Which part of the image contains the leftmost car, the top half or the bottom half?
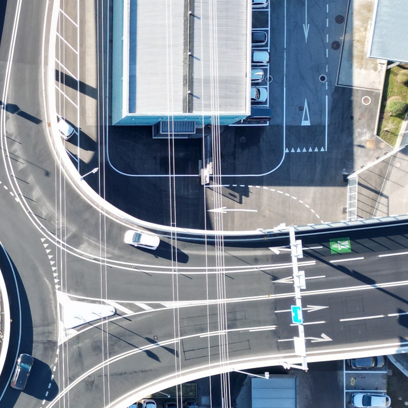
bottom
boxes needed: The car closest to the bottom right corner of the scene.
[351,391,389,408]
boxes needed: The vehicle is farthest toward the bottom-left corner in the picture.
[12,353,33,390]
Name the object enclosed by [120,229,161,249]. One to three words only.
car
